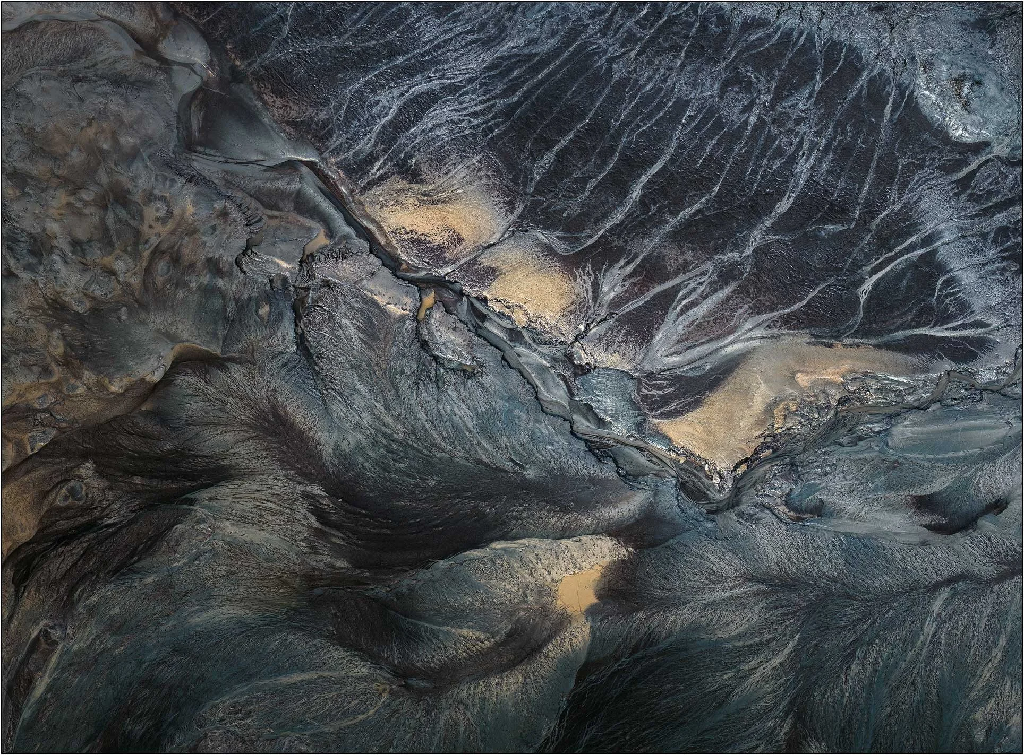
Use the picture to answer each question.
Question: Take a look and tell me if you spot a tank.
No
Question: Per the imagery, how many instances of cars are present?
0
